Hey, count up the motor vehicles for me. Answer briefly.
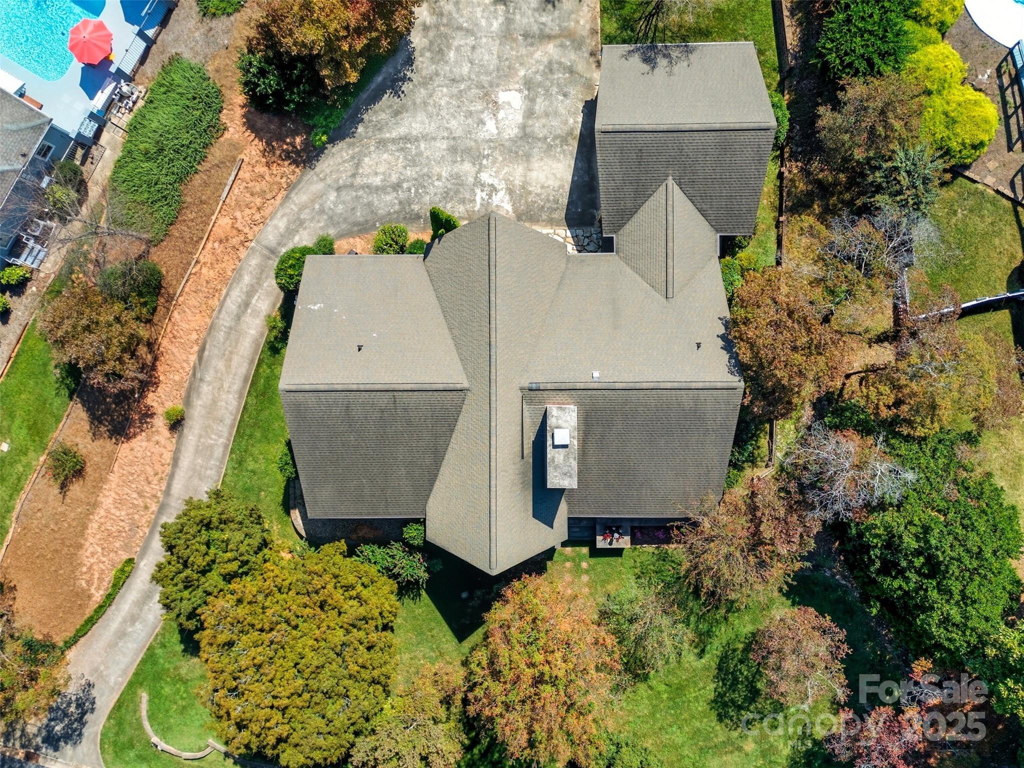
zero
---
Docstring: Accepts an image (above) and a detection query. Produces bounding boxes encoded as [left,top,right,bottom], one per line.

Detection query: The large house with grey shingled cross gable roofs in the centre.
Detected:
[278,177,745,576]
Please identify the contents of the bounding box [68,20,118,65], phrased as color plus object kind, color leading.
red umbrella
